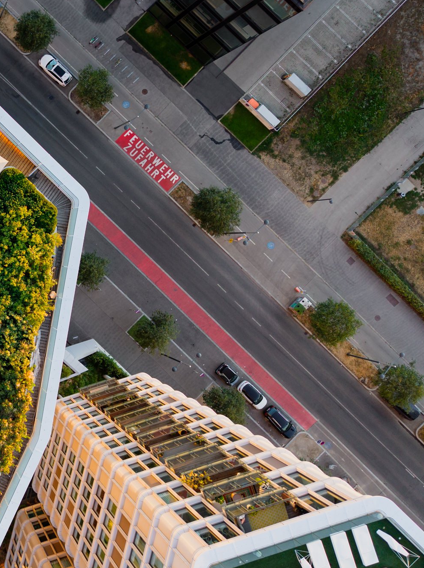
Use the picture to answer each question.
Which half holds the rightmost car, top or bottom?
bottom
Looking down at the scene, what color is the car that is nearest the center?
black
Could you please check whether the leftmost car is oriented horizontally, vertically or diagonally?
diagonally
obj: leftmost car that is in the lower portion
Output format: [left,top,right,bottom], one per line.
[210,359,241,388]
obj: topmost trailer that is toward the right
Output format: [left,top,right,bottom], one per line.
[275,69,317,104]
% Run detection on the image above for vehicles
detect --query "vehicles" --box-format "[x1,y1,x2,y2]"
[210,359,241,388]
[246,94,289,130]
[35,50,76,91]
[383,394,424,430]
[260,401,300,442]
[232,374,269,414]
